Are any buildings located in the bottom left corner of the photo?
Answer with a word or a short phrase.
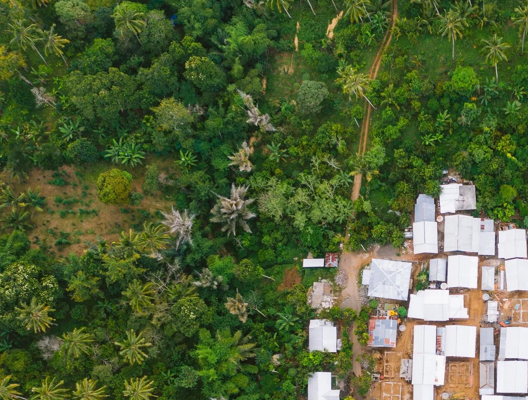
No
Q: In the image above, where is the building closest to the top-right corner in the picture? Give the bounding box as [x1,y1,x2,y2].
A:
[440,184,476,215]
